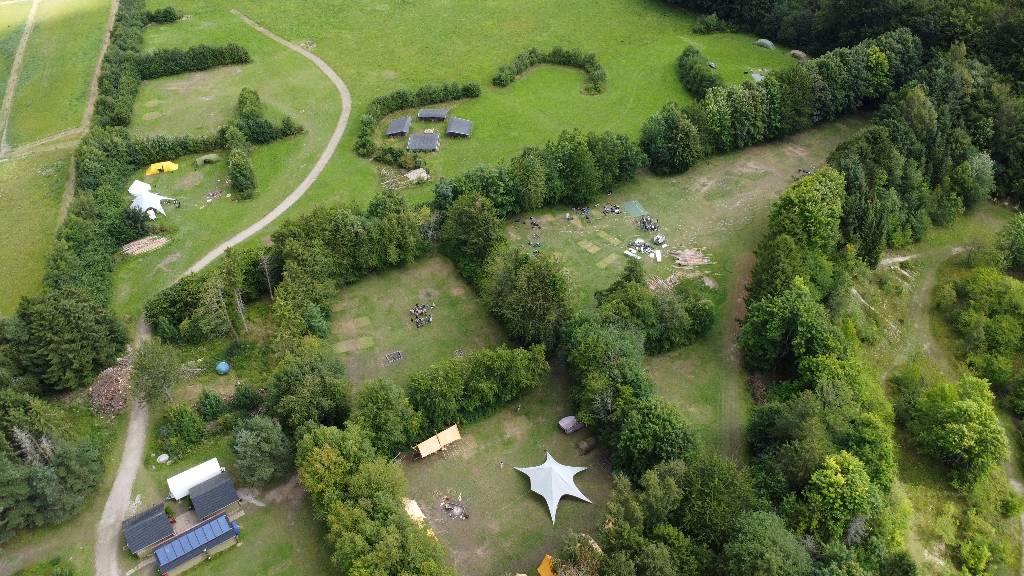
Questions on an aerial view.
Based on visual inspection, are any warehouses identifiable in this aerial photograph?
No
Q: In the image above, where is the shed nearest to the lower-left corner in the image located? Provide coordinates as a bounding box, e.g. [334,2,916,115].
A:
[124,502,174,560]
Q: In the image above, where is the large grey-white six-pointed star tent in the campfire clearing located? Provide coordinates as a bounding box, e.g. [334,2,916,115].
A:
[510,448,601,523]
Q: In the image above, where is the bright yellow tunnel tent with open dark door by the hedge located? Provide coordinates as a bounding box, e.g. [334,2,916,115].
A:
[146,158,178,179]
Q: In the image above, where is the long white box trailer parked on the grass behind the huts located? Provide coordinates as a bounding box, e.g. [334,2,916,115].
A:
[161,458,223,502]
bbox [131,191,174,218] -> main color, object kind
white tent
